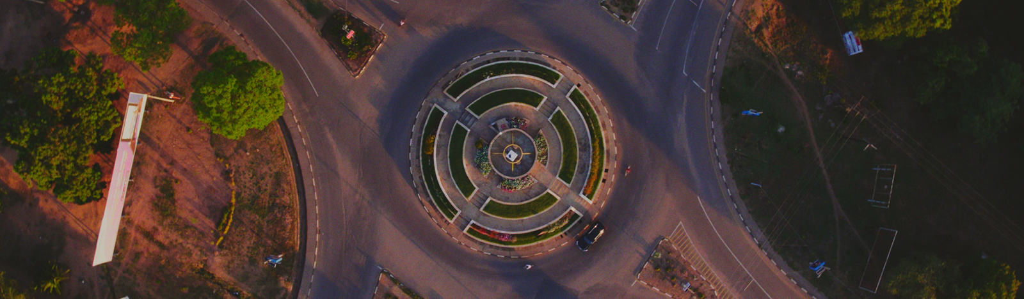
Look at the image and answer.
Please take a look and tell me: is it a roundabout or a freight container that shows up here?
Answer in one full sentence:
The one in the frame is a roundabout.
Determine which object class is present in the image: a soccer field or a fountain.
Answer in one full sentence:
The one in the frame is a fountain.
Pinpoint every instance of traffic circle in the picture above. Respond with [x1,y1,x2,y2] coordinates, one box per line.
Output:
[409,50,618,258]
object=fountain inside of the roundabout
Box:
[489,129,537,178]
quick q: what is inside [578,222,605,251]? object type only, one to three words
car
